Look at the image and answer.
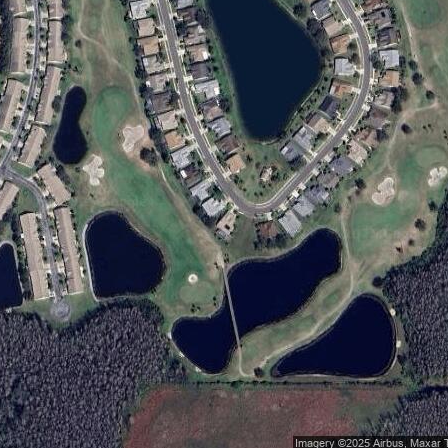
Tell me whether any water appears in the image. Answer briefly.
Yes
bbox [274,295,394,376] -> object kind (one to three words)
pond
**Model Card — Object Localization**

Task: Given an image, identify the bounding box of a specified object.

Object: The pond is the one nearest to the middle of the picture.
[85,211,164,299]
